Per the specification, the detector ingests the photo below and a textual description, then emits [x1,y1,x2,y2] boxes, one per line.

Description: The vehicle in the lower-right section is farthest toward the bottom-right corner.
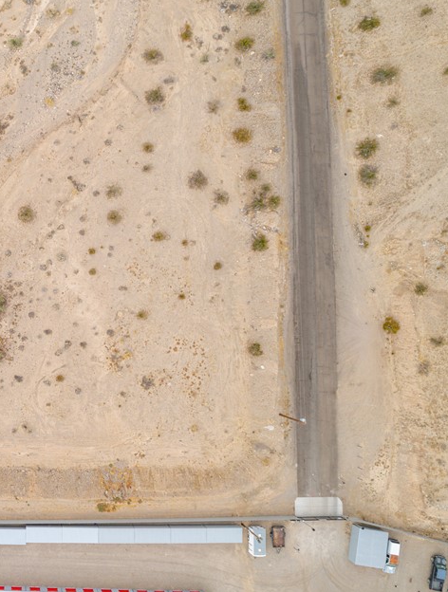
[431,554,448,592]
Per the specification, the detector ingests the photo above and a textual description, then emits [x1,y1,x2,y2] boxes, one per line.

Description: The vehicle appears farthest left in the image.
[247,523,267,559]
